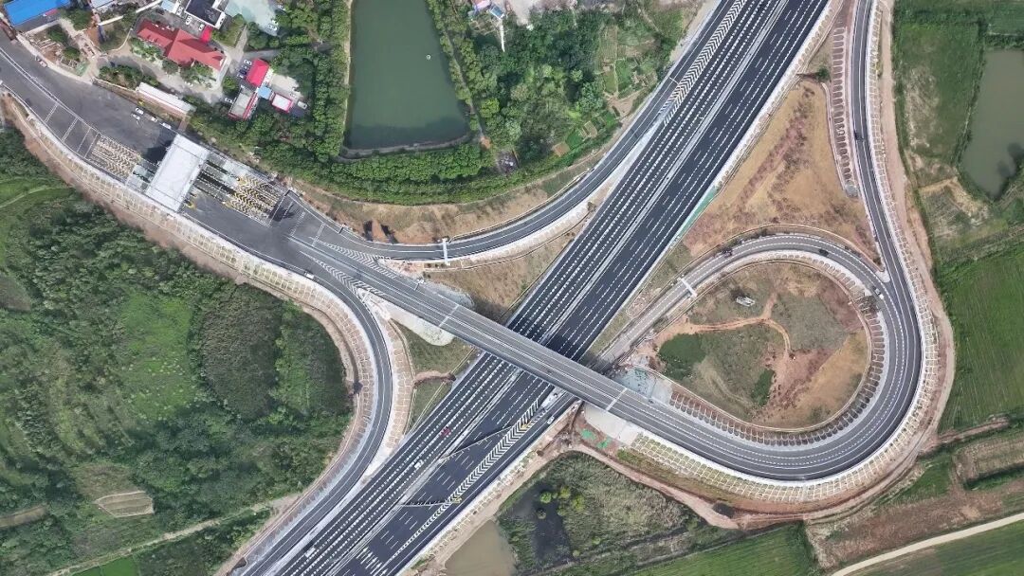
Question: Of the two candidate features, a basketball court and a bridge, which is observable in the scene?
bridge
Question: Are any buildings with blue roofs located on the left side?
Yes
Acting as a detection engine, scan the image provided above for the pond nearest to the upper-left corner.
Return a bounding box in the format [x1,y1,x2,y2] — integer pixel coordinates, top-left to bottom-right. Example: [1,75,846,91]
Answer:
[345,0,468,151]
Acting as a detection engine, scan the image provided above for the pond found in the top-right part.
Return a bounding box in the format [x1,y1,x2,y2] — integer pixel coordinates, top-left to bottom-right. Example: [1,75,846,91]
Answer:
[959,49,1024,198]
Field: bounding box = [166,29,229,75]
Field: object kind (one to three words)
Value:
building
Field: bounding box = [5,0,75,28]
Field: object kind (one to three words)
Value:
building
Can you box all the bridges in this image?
[442,303,623,413]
